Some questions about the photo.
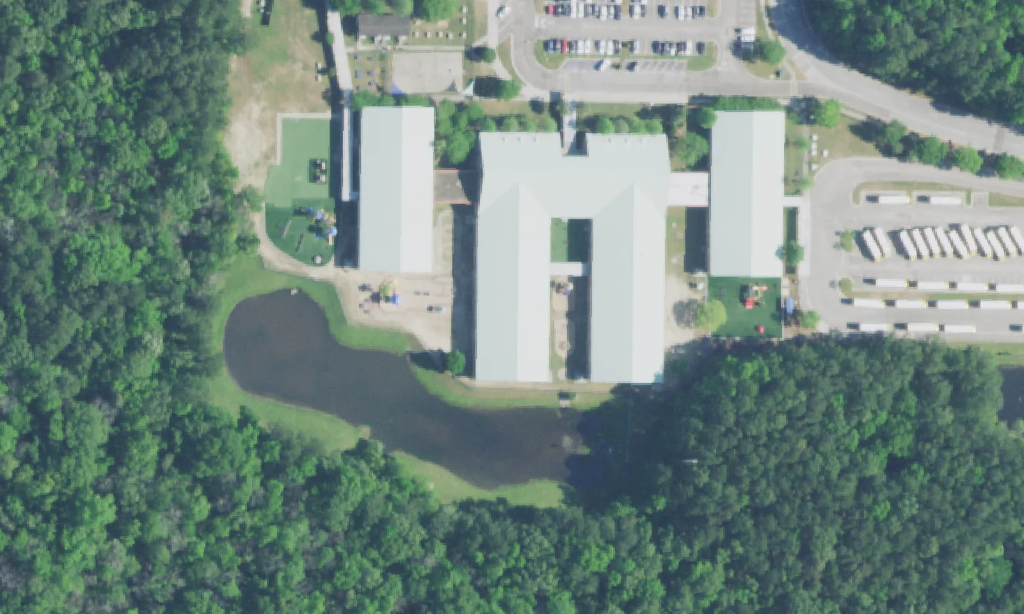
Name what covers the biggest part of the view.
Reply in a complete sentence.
The bulk of the photo consists of trees.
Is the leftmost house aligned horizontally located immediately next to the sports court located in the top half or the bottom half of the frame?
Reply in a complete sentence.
You can find the leftmost house aligned horizontally located immediately next to the sports court in the top half.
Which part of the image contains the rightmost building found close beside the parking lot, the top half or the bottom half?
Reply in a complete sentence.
You can find the rightmost building found close beside the parking lot in the top half.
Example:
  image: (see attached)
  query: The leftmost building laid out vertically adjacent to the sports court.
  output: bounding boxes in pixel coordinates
[357,107,435,272]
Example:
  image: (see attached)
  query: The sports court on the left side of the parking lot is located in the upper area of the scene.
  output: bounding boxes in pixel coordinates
[392,52,463,93]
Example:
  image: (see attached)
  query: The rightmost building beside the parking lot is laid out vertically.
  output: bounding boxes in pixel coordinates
[707,111,785,276]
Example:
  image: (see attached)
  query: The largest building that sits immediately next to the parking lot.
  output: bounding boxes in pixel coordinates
[475,132,670,383]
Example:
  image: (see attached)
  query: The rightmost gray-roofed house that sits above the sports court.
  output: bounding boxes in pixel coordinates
[357,15,410,40]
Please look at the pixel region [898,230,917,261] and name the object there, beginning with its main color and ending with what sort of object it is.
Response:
white vehicle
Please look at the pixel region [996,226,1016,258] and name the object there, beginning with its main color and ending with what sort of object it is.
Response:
white bus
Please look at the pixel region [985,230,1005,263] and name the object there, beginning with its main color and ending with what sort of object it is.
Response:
white bus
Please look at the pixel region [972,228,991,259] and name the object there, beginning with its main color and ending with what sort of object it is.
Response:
white vehicle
